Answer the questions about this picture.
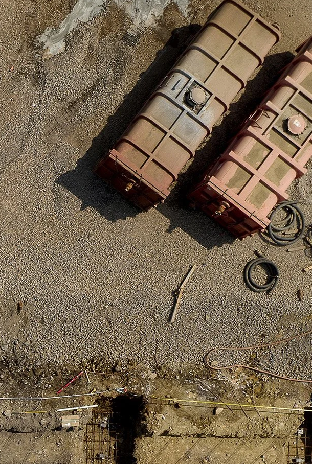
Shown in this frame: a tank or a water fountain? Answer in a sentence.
The one in the frame is a tank.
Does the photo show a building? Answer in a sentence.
No, there's no building here.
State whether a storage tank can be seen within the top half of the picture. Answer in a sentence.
Yes, there is a storage tank within the top half of the picture.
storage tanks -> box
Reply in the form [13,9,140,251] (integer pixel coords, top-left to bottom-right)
[187,35,312,236]
[92,2,283,211]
